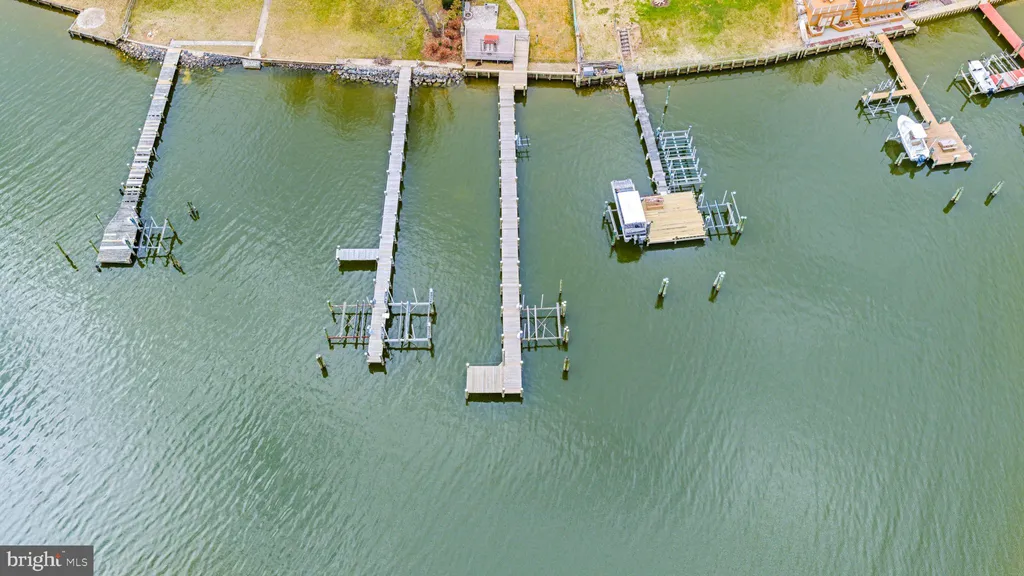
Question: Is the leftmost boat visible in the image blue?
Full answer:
No, the leftmost boat is white.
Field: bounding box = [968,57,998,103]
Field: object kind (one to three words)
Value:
boat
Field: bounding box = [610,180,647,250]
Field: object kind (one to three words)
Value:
boat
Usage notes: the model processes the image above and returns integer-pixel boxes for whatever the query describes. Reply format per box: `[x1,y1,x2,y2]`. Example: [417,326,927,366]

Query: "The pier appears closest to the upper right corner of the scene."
[978,2,1024,94]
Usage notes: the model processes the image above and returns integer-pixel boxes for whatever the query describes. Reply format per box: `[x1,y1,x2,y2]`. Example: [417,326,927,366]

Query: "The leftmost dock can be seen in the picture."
[97,50,182,268]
